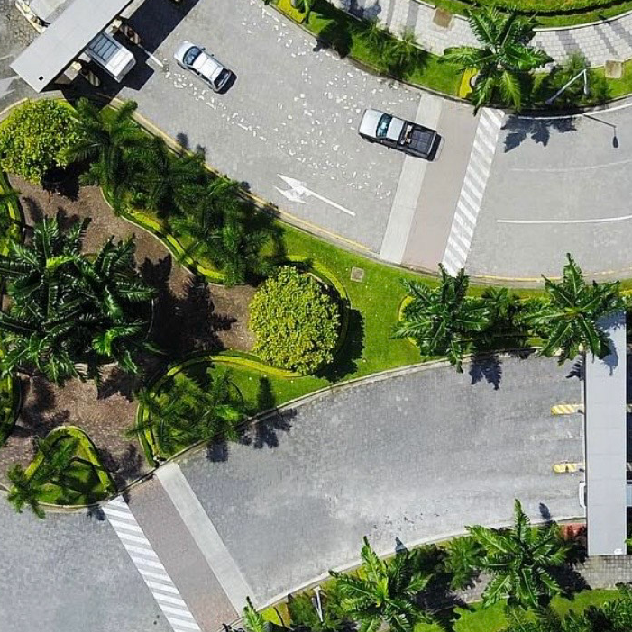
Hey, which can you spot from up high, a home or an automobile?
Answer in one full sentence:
Looking from above, you can make out an automobile.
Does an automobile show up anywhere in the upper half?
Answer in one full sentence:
Yes, looking in the upper half, one can make out an automobile.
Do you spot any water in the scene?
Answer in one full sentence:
No, the scene doesn't show any water.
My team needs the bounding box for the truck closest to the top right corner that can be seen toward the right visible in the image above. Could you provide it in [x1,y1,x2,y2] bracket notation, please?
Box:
[357,110,444,159]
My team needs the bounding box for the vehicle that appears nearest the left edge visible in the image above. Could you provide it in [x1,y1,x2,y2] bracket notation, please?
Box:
[91,28,144,86]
